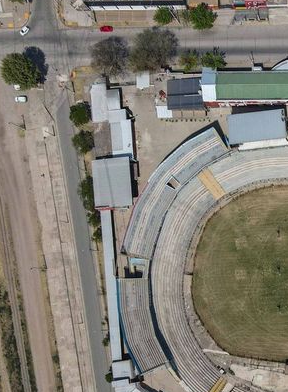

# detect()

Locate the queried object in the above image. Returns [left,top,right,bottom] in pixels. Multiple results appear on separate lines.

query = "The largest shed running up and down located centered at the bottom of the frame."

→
[101,210,126,361]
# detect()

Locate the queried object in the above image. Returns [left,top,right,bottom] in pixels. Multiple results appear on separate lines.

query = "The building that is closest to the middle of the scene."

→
[92,156,138,211]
